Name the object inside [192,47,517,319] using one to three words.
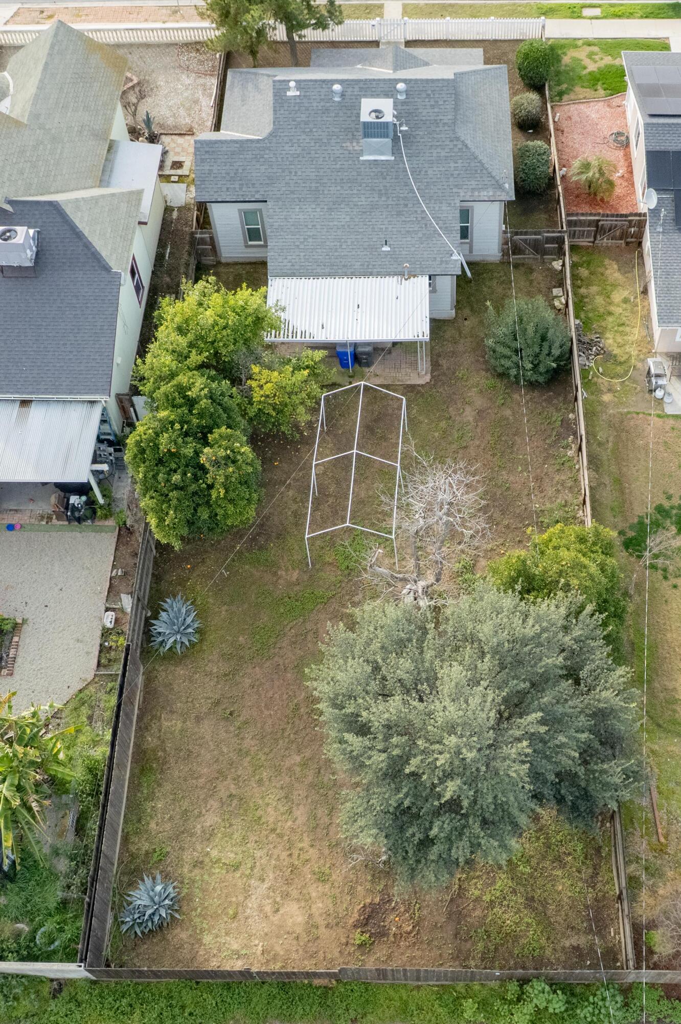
house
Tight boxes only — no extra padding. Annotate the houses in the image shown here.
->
[0,19,165,431]
[192,47,517,319]
[617,51,681,353]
